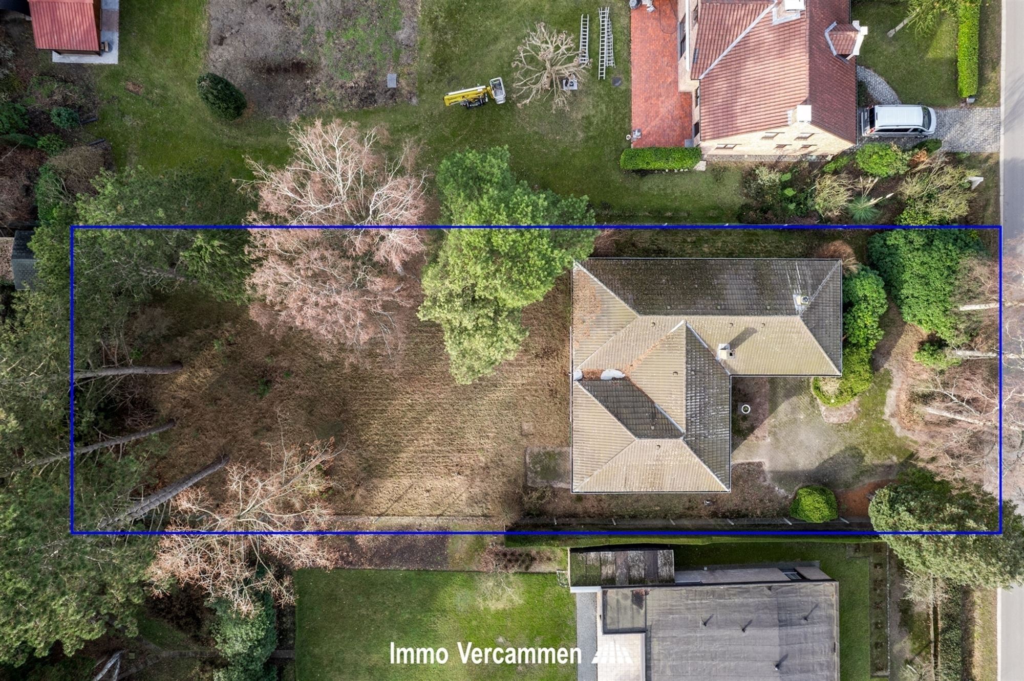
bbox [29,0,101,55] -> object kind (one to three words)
shed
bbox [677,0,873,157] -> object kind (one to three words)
house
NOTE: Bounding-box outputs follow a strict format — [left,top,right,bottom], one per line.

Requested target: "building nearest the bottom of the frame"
[598,569,840,681]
